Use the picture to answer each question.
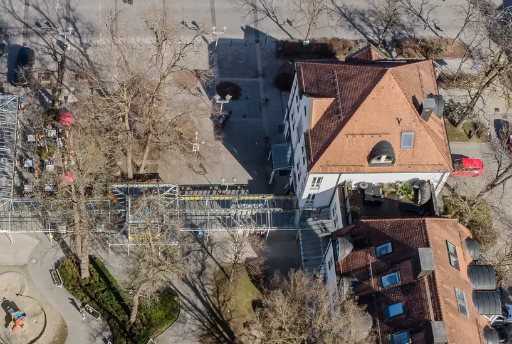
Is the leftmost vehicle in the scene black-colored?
Yes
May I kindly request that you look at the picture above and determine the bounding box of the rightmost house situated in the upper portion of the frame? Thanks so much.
[288,25,454,220]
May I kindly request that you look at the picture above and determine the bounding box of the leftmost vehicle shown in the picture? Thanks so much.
[14,49,34,94]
